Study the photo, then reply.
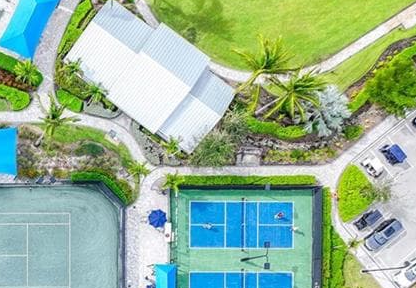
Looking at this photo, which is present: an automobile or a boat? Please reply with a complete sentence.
Visible in the photo is an automobile.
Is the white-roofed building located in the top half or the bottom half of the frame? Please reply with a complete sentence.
You can find the white-roofed building in the top half.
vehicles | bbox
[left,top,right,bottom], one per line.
[364,219,407,250]
[396,266,416,288]
[363,158,388,178]
[355,209,387,231]
[383,146,410,165]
